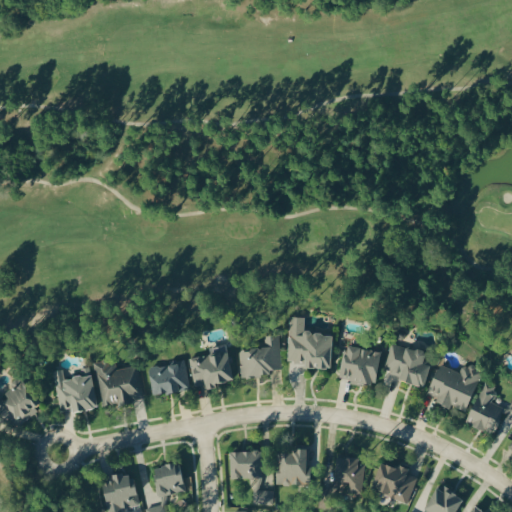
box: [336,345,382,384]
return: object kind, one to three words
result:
house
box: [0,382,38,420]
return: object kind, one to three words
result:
house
